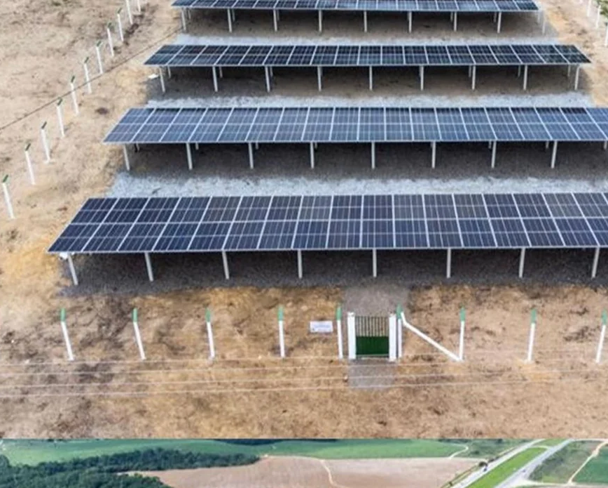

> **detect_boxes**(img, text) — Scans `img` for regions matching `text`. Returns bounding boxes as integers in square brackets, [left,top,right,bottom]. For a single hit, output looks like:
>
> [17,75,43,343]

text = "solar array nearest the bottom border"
[48,193,608,284]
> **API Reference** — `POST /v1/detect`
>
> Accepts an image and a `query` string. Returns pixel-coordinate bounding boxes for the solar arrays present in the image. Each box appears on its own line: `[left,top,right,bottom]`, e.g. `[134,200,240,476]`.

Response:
[48,193,608,284]
[104,106,608,168]
[145,44,593,91]
[173,0,546,31]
